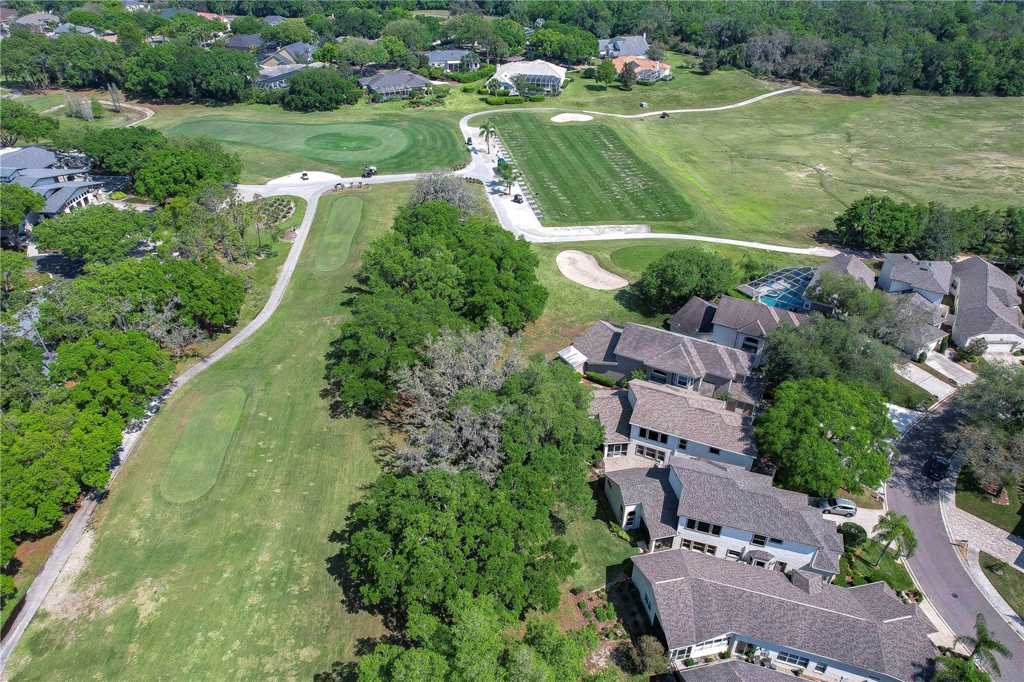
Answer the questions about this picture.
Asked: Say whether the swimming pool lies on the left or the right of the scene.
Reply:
right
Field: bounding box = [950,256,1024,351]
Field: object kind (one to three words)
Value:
house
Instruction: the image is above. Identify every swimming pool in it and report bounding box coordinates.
[760,281,809,310]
